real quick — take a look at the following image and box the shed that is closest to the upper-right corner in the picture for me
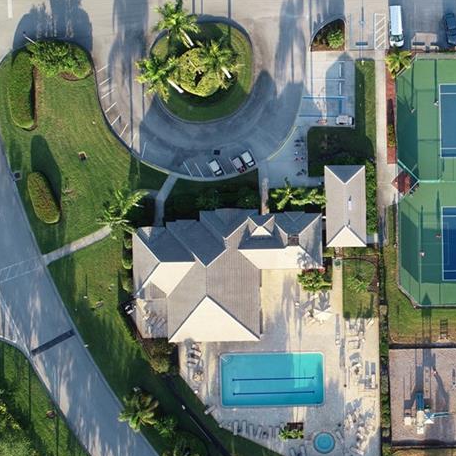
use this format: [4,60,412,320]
[325,165,367,247]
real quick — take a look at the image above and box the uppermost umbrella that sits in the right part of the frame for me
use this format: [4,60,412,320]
[314,308,330,324]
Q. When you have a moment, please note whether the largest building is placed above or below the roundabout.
below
